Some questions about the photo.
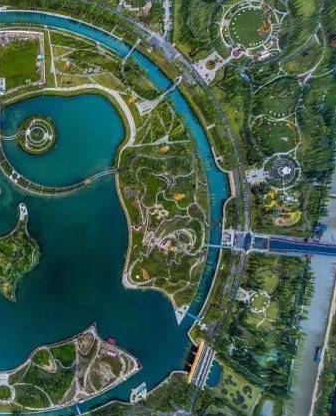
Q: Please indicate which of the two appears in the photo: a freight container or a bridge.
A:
bridge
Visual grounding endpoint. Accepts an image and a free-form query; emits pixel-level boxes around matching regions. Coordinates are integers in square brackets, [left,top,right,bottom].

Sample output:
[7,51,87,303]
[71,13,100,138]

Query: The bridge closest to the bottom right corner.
[184,339,215,389]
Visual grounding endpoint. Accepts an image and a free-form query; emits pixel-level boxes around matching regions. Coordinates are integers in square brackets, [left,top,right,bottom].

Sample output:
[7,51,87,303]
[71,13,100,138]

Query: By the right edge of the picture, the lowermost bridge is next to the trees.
[252,235,336,259]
